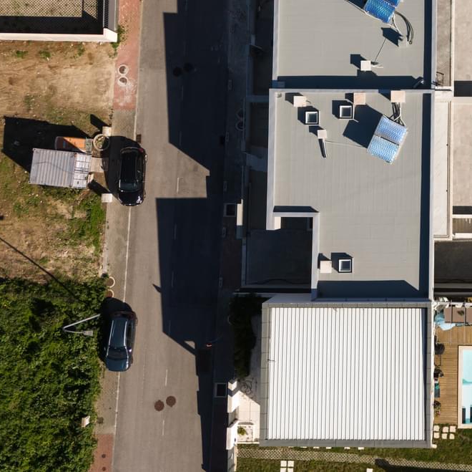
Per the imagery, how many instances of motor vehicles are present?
two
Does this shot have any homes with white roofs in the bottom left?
No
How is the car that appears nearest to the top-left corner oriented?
vertically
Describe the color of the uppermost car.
black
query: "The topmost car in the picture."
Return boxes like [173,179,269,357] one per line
[114,142,148,206]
